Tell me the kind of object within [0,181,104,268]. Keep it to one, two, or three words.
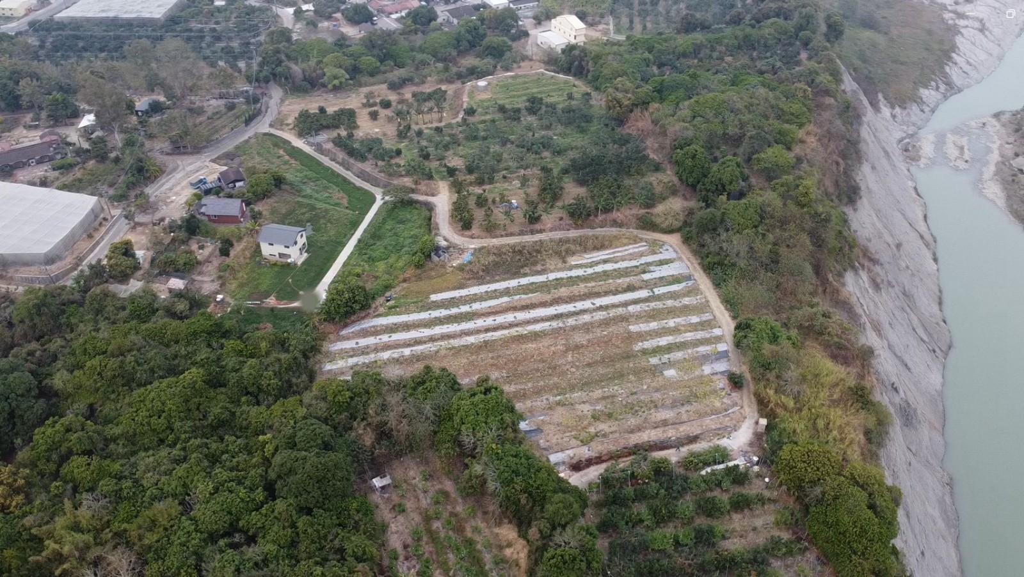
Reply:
greenhouse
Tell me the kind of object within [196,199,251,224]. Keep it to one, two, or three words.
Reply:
house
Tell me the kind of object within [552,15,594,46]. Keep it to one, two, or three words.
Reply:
house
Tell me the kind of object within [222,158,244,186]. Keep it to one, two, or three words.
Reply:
shed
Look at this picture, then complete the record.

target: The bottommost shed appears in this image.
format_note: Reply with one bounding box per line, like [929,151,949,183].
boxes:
[369,463,394,494]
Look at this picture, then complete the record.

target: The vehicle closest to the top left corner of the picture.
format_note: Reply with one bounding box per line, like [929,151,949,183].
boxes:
[187,175,210,188]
